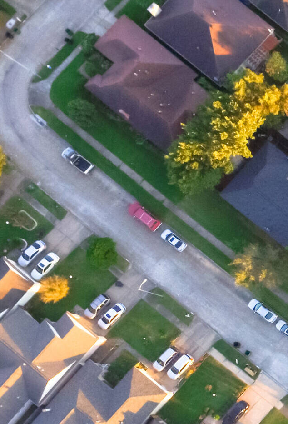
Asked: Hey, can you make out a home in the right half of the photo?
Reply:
Yes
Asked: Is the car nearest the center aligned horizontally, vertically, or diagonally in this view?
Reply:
diagonally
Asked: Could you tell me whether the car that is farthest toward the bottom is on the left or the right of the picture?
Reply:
right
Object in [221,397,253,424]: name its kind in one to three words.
car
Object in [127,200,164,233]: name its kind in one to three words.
car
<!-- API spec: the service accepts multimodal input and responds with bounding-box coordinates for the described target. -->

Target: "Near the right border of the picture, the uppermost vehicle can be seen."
[246,296,281,326]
